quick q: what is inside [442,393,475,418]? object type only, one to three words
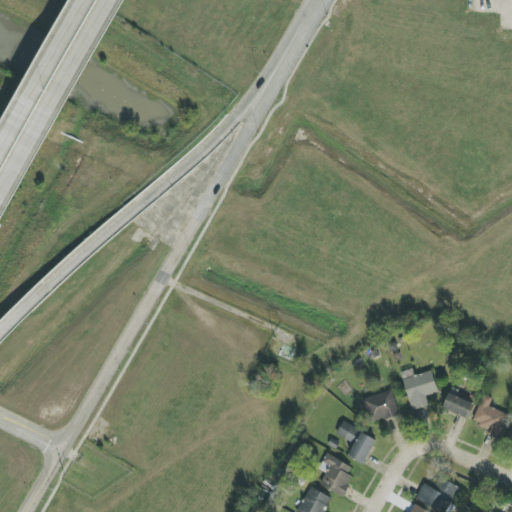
house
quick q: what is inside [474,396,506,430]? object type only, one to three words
house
